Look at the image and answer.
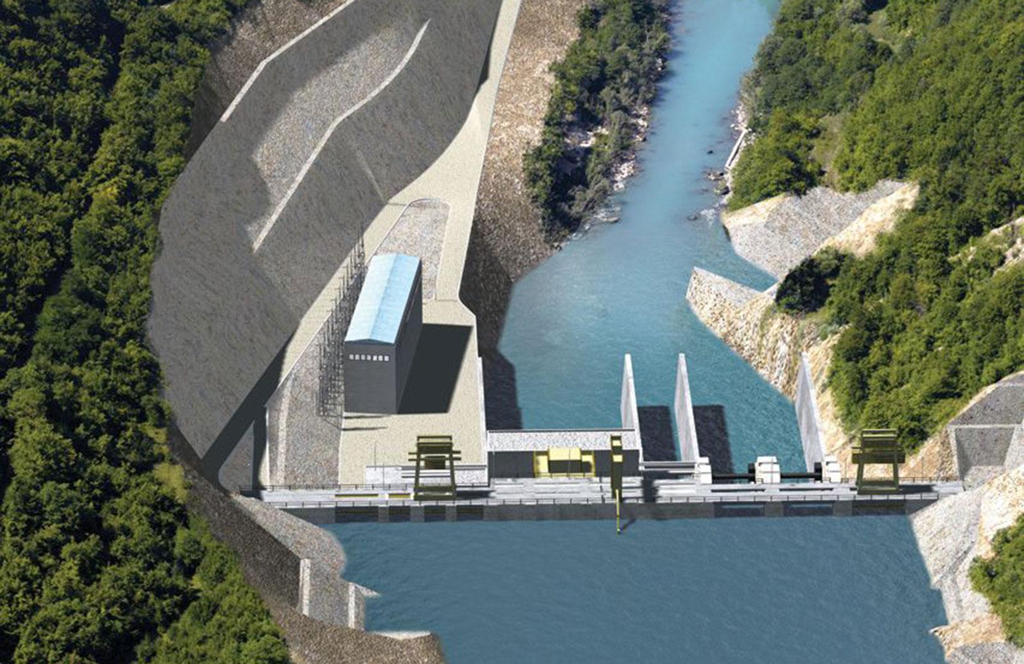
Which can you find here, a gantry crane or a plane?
gantry crane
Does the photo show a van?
No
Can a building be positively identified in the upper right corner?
No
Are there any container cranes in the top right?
No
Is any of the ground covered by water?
Yes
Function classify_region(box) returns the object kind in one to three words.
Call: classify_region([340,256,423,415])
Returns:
building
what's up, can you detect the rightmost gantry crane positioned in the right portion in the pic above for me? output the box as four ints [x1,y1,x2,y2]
[854,434,909,495]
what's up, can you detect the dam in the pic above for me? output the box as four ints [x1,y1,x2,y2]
[257,474,956,521]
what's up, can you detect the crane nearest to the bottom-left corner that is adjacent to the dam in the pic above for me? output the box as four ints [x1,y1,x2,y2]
[408,436,460,499]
